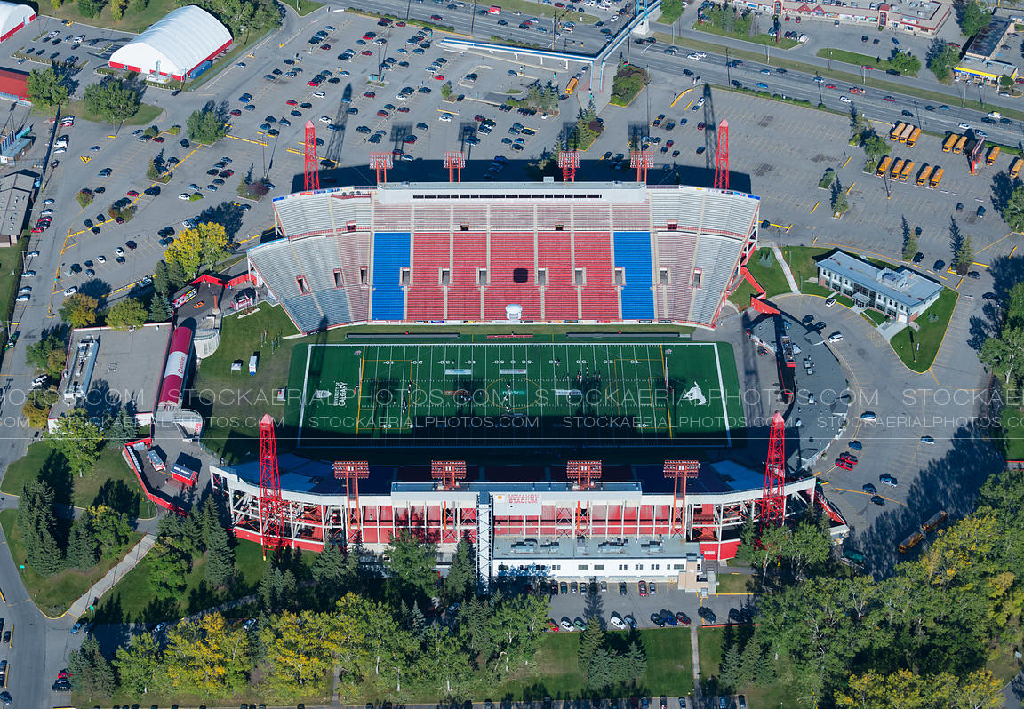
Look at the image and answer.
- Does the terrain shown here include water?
No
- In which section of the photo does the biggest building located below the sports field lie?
bottom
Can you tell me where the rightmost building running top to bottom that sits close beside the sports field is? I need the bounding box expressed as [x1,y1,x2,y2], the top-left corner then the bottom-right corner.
[774,313,849,475]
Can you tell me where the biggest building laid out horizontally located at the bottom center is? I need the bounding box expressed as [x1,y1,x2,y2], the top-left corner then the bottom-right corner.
[489,534,718,594]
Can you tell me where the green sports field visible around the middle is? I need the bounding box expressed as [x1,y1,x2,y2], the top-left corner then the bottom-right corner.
[278,334,751,456]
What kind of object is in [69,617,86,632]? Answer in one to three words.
vehicle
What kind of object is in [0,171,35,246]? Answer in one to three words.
building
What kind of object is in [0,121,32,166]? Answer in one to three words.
building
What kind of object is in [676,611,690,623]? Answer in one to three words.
vehicle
